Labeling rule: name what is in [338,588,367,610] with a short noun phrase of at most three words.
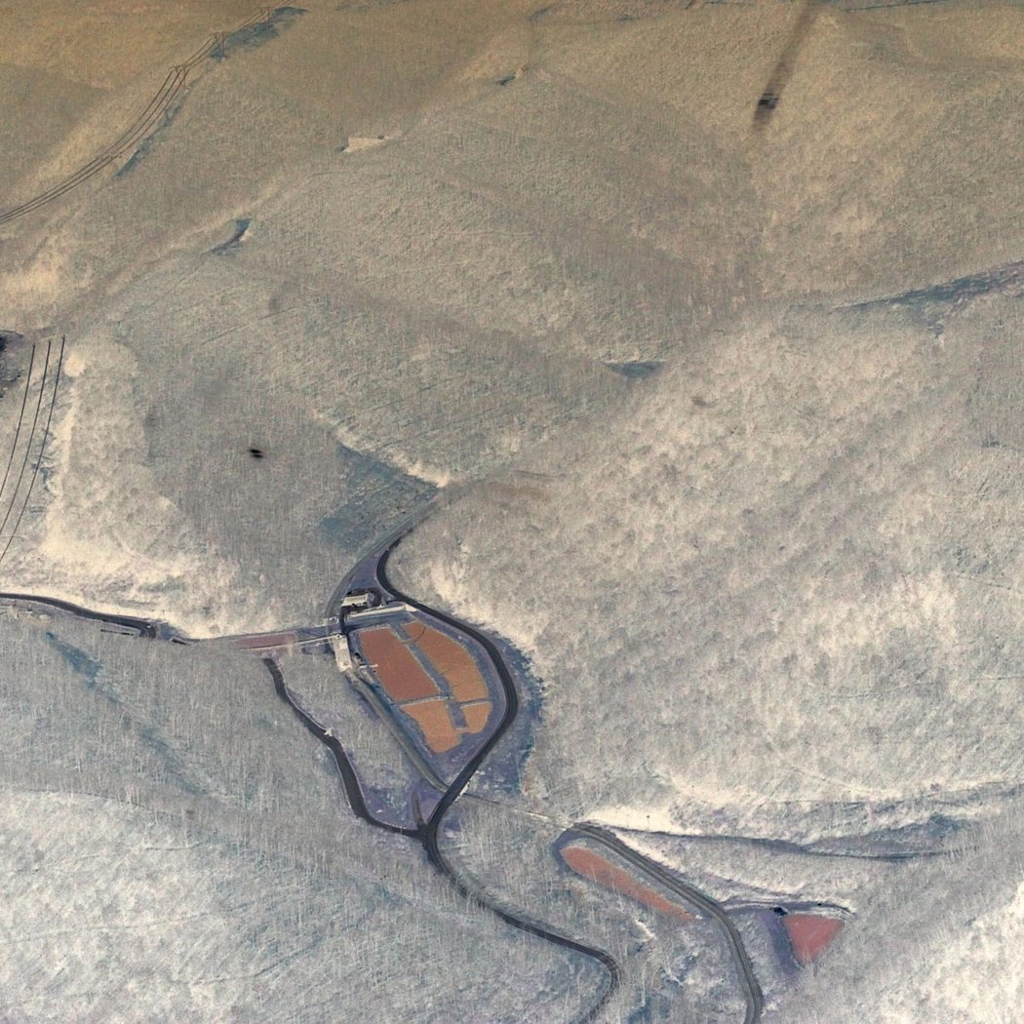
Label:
building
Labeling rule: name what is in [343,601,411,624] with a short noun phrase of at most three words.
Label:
shed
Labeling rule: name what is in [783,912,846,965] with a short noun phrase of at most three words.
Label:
pond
